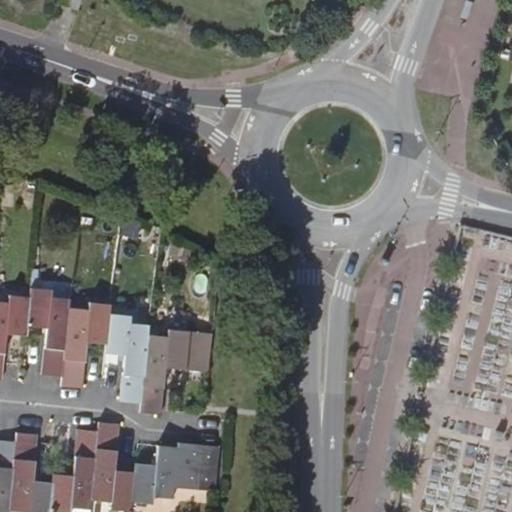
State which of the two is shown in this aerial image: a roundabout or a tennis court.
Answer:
roundabout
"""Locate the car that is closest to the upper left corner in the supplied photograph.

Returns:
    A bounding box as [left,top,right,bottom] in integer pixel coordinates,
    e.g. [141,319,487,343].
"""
[72,72,96,87]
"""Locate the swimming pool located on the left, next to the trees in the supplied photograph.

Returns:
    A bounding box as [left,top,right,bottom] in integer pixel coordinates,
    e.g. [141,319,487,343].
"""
[194,274,208,297]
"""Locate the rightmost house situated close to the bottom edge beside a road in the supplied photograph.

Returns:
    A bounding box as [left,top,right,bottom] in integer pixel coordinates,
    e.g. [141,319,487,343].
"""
[173,443,218,491]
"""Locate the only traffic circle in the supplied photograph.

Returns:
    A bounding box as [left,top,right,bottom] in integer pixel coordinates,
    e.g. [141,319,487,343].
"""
[216,64,427,248]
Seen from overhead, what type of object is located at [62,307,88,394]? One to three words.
house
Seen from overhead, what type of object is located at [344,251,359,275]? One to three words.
car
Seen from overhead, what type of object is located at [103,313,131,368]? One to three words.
house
